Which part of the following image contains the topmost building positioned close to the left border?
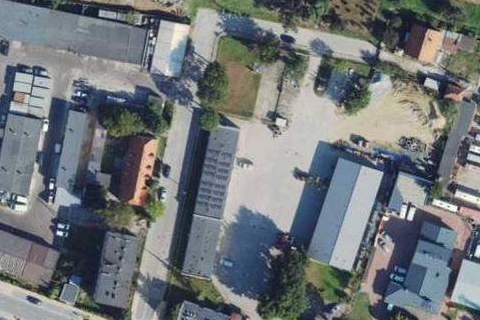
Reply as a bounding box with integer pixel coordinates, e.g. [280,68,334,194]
[0,0,147,65]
